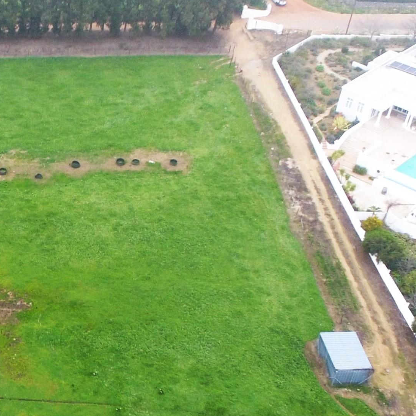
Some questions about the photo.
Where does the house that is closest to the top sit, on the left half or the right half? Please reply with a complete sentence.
You can find the house that is closest to the top on the right side of the picture.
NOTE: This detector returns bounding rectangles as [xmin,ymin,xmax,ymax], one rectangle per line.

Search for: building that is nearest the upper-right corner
[335,42,416,131]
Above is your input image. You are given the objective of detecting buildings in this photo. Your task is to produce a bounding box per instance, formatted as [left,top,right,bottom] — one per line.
[312,328,376,392]
[335,42,416,131]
